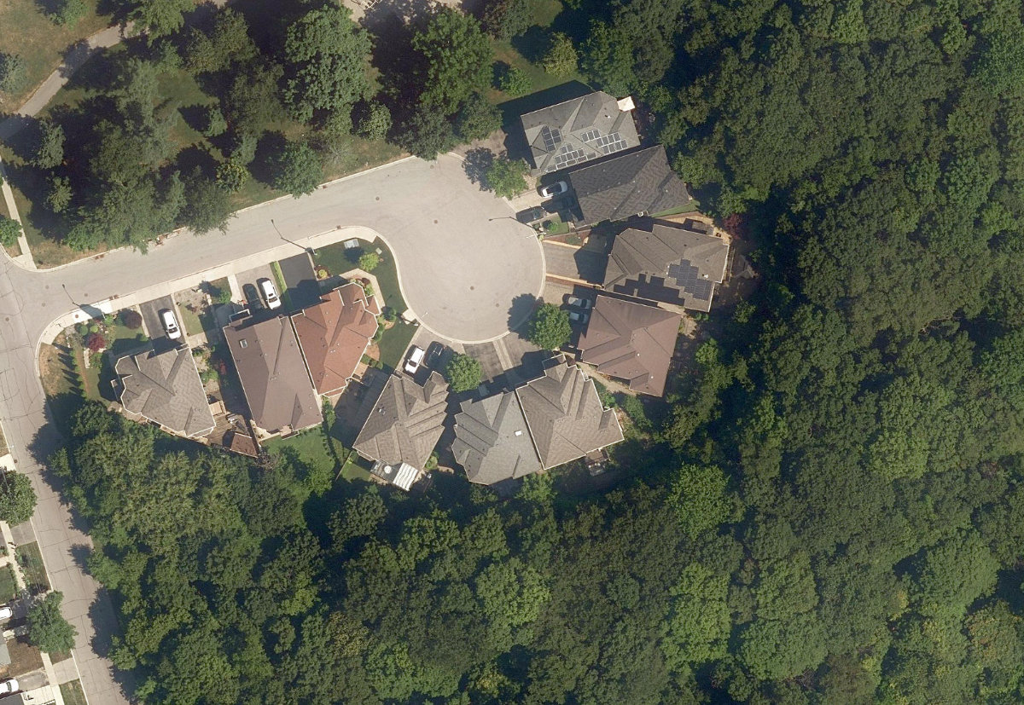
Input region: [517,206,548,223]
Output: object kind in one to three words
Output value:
car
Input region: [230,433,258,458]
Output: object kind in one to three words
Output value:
shed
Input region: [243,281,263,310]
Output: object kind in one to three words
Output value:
car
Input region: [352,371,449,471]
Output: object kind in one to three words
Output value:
house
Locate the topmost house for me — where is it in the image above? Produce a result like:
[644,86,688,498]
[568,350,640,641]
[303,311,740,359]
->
[520,91,641,176]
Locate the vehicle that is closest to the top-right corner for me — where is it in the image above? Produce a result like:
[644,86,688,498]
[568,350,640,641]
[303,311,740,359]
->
[540,180,569,198]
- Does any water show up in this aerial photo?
No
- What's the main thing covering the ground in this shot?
trees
